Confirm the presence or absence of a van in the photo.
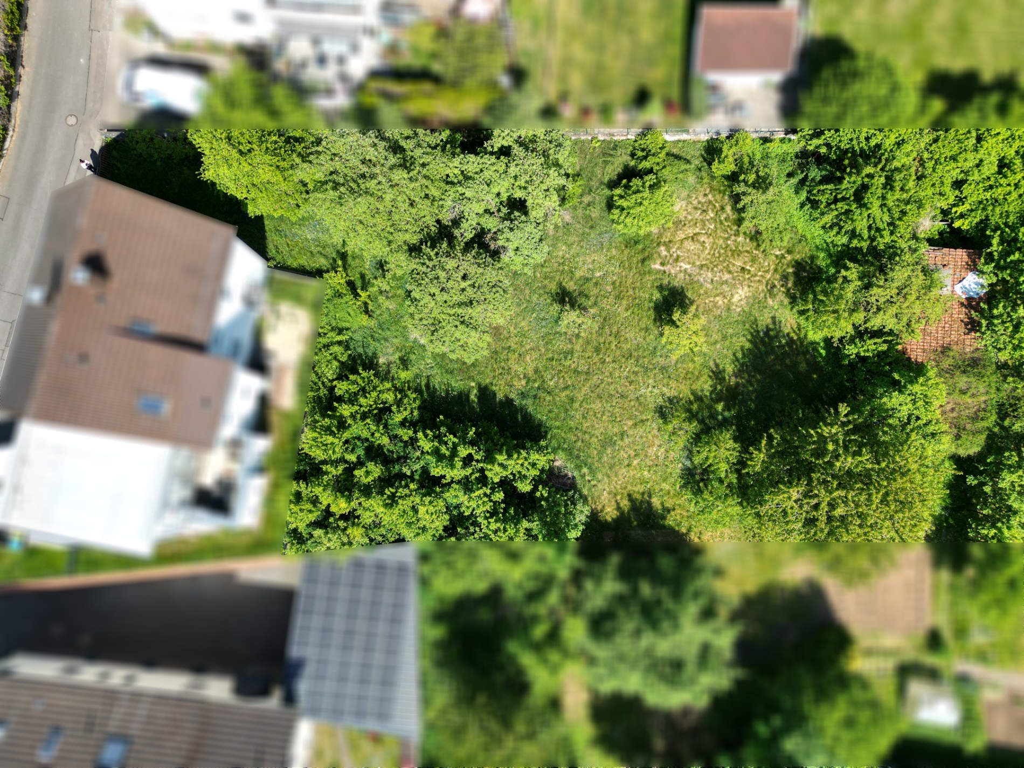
Yes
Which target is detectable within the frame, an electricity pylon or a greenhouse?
greenhouse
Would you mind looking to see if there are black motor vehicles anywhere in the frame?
No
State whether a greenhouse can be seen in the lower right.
Yes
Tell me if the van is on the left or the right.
left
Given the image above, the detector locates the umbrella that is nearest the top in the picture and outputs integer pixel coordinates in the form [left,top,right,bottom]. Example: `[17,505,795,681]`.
[462,0,495,27]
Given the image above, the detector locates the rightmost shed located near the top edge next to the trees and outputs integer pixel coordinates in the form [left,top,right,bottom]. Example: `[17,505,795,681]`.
[690,3,799,91]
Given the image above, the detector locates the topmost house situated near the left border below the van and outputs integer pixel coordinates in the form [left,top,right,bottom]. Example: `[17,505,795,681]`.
[18,175,265,354]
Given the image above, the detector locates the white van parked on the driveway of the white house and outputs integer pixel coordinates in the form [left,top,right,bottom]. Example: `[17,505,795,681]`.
[128,66,213,118]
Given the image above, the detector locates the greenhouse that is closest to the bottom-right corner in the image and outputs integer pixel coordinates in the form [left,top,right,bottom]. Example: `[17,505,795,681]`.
[900,668,964,722]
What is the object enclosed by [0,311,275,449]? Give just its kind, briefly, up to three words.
house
